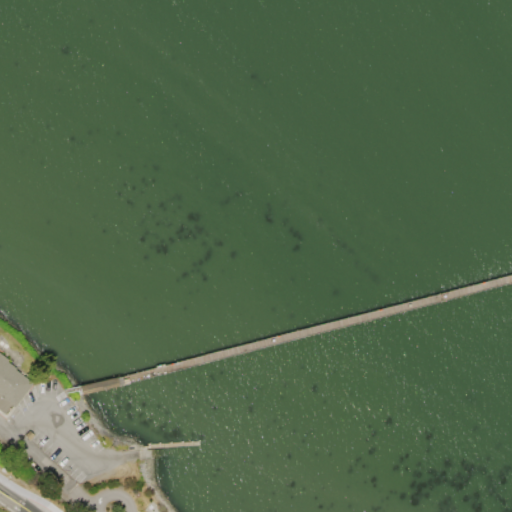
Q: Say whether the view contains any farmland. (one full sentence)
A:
No, there is no farmland in the image.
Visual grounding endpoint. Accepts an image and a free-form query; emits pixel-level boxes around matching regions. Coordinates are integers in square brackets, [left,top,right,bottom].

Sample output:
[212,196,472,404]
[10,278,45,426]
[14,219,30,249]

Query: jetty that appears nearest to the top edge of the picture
[78,276,512,396]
